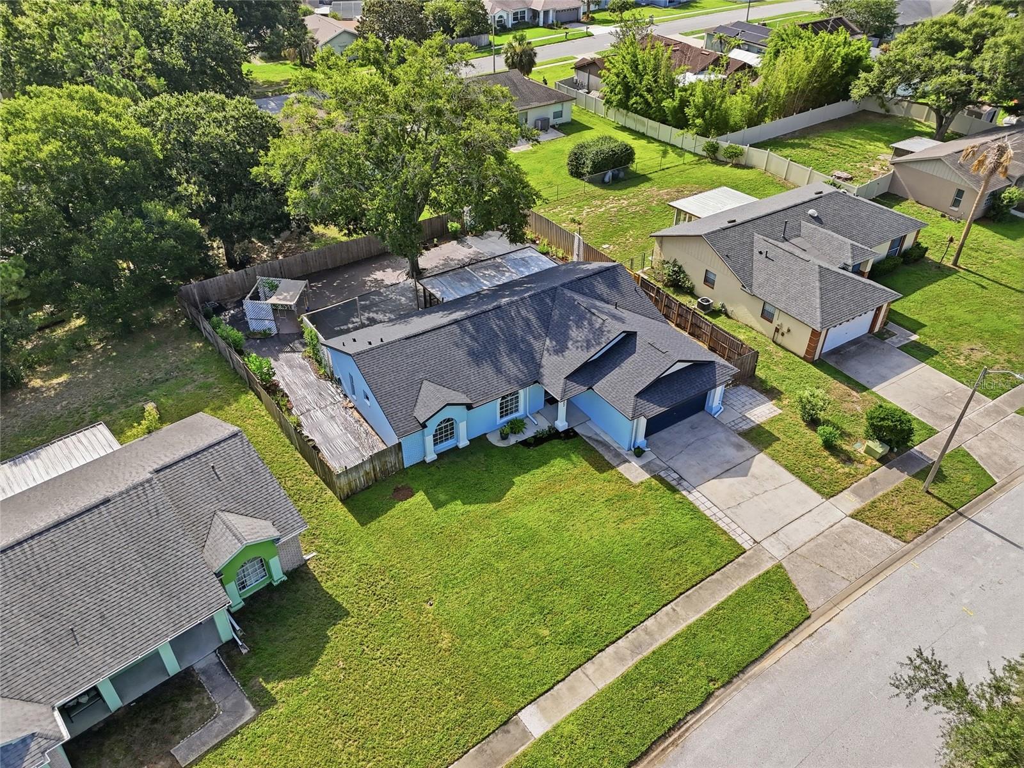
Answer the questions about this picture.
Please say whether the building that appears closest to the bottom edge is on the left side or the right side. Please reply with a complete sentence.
The building that appears closest to the bottom edge sits on the left side.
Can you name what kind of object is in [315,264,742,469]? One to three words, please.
house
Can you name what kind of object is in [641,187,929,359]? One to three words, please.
house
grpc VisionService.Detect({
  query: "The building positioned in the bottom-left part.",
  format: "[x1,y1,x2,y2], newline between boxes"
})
[0,412,317,768]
